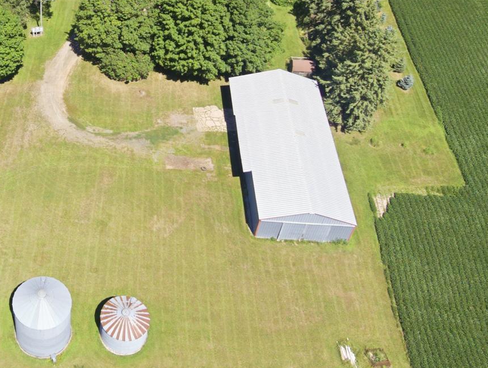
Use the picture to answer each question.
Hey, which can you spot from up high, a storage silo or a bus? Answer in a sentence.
The image shows a storage silo.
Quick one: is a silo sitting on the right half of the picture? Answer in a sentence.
No, there's no silo to be seen on the right half of the picture.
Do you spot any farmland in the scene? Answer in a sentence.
Yes, farmland can be seen from above here.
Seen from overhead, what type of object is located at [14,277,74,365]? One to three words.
silo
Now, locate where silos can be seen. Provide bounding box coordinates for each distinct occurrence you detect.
[98,296,150,356]
[14,277,74,365]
